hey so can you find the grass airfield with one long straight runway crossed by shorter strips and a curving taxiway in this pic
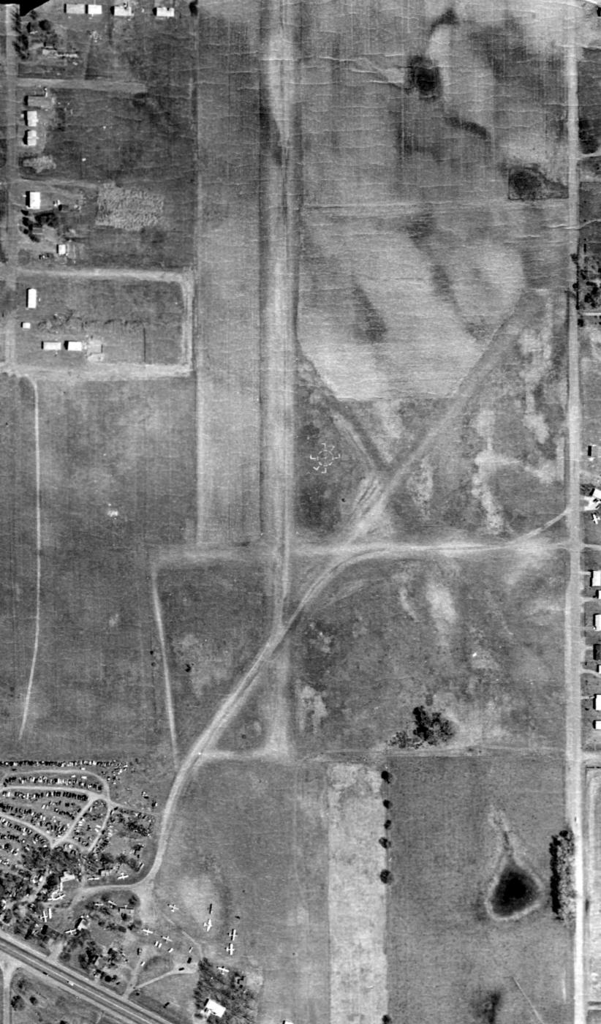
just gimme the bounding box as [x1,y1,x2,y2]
[138,0,570,925]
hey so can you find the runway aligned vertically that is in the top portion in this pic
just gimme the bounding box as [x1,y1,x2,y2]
[261,0,298,628]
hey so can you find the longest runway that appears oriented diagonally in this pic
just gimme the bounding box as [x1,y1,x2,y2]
[339,286,536,550]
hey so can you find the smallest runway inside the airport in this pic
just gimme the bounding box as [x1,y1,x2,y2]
[297,353,388,478]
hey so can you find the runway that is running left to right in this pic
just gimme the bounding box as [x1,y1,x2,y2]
[146,538,570,561]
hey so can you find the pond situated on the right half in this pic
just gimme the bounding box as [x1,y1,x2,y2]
[490,853,540,916]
